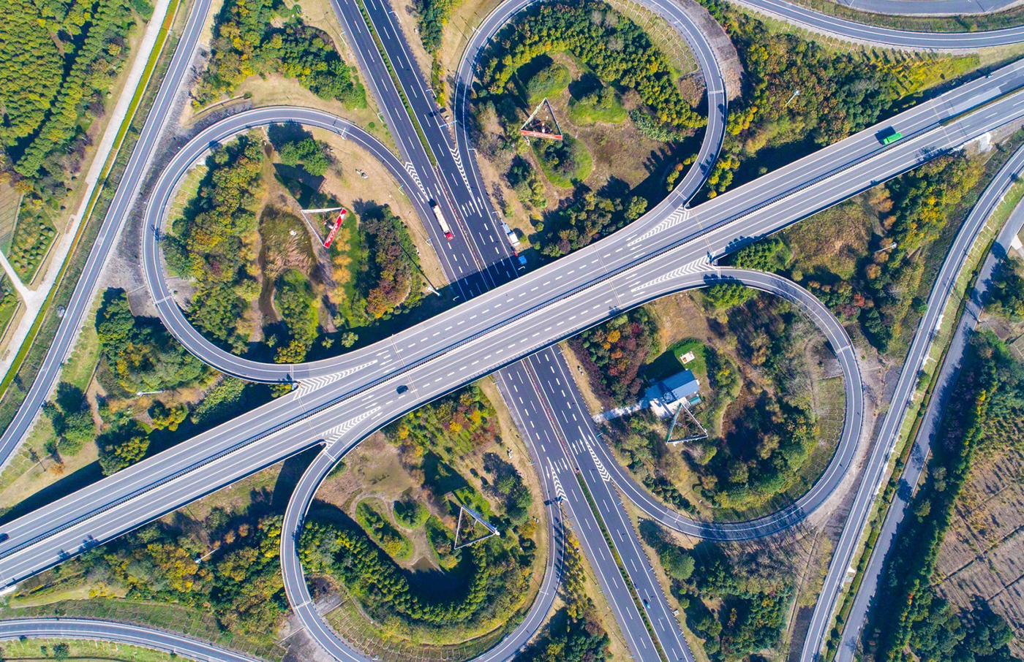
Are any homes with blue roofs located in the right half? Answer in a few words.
Yes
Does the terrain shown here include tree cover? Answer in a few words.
Yes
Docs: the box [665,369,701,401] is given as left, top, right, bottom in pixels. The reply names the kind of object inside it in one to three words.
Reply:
house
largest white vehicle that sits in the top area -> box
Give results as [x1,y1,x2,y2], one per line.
[432,205,453,239]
